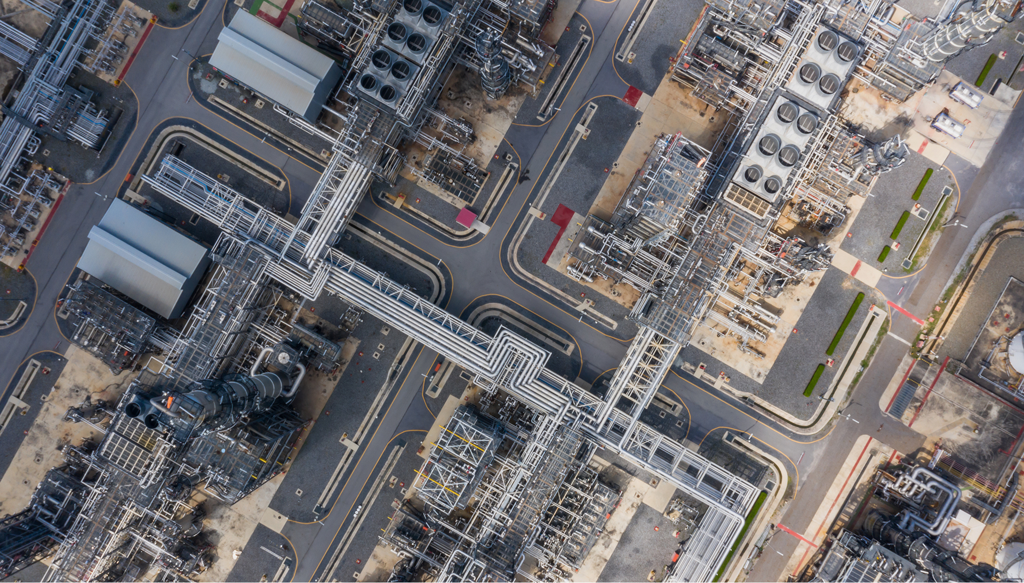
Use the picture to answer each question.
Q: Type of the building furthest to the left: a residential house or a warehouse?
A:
warehouse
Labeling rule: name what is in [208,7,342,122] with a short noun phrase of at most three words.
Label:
warehouse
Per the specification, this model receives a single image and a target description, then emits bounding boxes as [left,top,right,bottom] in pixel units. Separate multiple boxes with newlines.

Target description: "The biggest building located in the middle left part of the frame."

[78,197,219,320]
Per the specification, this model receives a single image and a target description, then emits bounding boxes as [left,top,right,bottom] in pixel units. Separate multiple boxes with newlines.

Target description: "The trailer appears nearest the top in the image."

[947,76,993,107]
